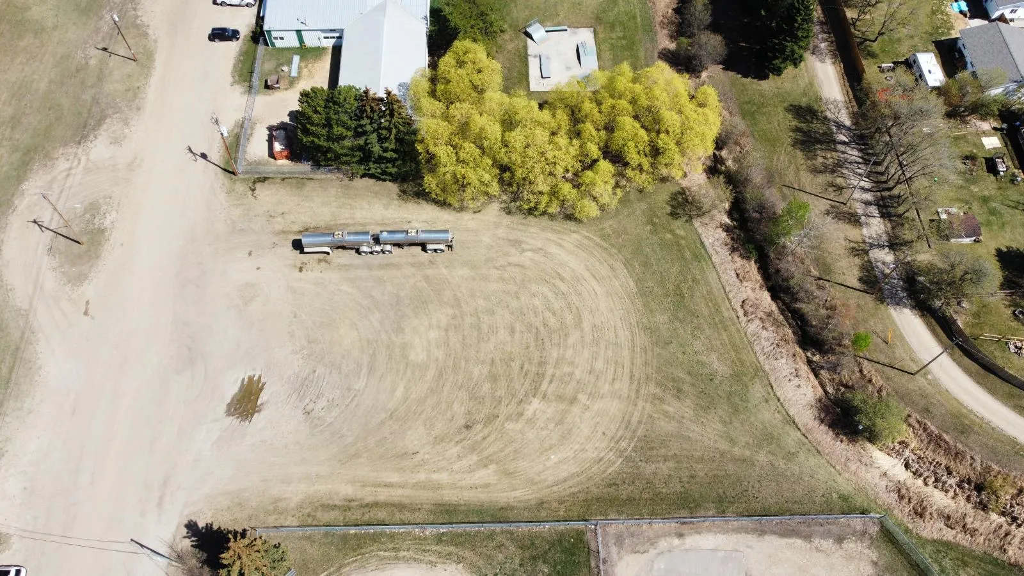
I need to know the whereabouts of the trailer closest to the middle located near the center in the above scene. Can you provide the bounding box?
[378,226,457,254]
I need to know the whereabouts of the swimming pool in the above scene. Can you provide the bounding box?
[951,1,971,14]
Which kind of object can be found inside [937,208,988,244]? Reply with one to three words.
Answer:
shed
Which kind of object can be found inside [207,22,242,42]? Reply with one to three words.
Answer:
car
